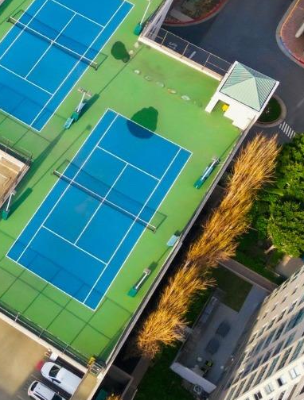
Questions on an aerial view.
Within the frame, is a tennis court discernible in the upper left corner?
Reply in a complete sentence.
Yes, looking in the upper left corner, one can make out a tennis court.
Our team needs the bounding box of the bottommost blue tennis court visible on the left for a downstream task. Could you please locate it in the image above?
[7,107,192,311]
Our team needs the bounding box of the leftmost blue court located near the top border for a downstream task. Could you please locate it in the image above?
[0,0,134,132]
